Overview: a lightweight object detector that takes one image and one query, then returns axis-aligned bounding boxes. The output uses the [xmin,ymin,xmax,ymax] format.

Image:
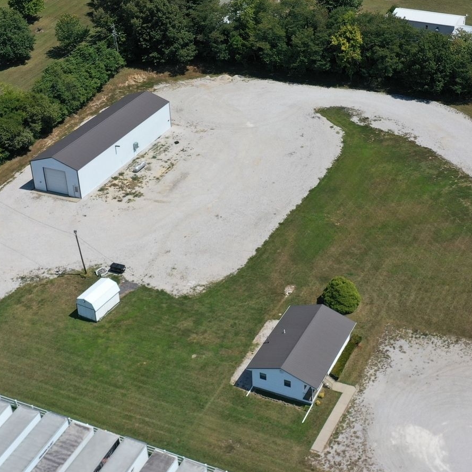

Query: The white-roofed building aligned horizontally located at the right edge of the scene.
[395,10,468,36]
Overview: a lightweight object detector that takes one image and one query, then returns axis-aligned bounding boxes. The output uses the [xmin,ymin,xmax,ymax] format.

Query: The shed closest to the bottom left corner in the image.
[76,282,120,322]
